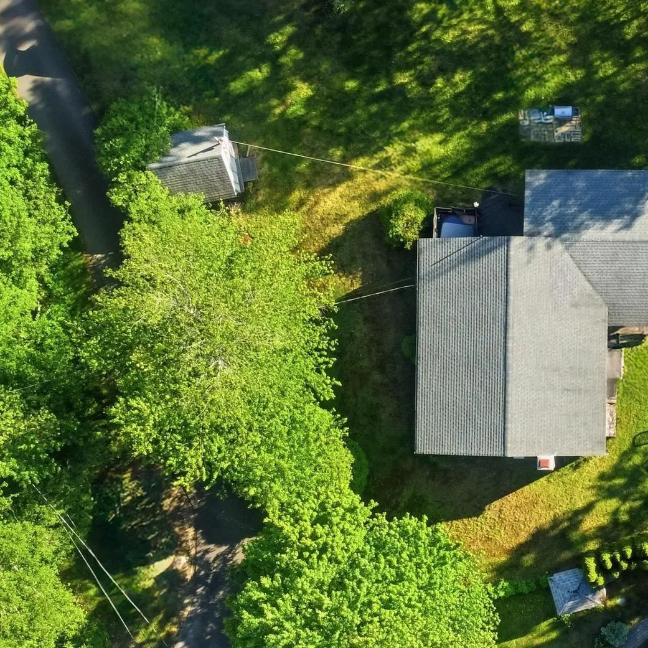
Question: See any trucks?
No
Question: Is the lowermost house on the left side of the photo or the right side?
right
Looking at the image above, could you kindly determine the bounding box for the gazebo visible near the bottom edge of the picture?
[546,552,607,621]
